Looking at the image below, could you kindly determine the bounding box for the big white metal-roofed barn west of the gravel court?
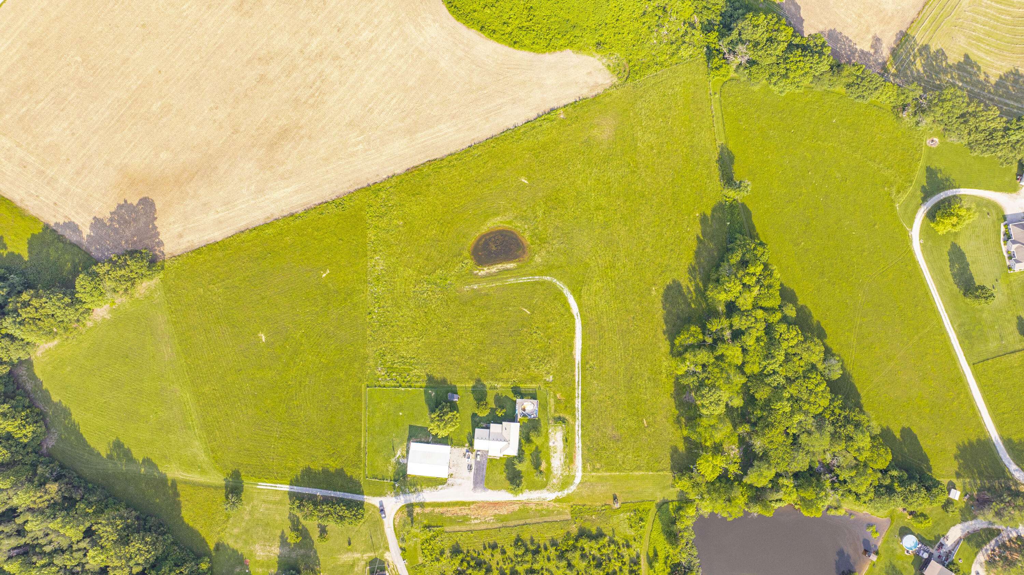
[407,440,451,478]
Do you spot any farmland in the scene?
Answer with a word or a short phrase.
Yes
